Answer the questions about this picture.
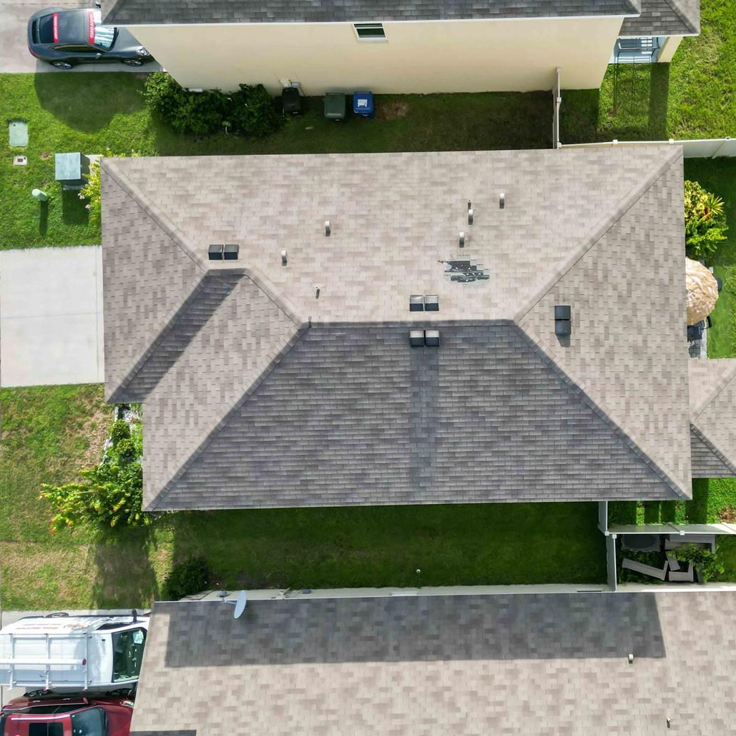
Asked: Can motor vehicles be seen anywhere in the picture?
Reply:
Yes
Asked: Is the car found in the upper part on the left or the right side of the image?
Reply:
left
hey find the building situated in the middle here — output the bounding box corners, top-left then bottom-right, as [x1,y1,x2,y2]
[101,142,736,514]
